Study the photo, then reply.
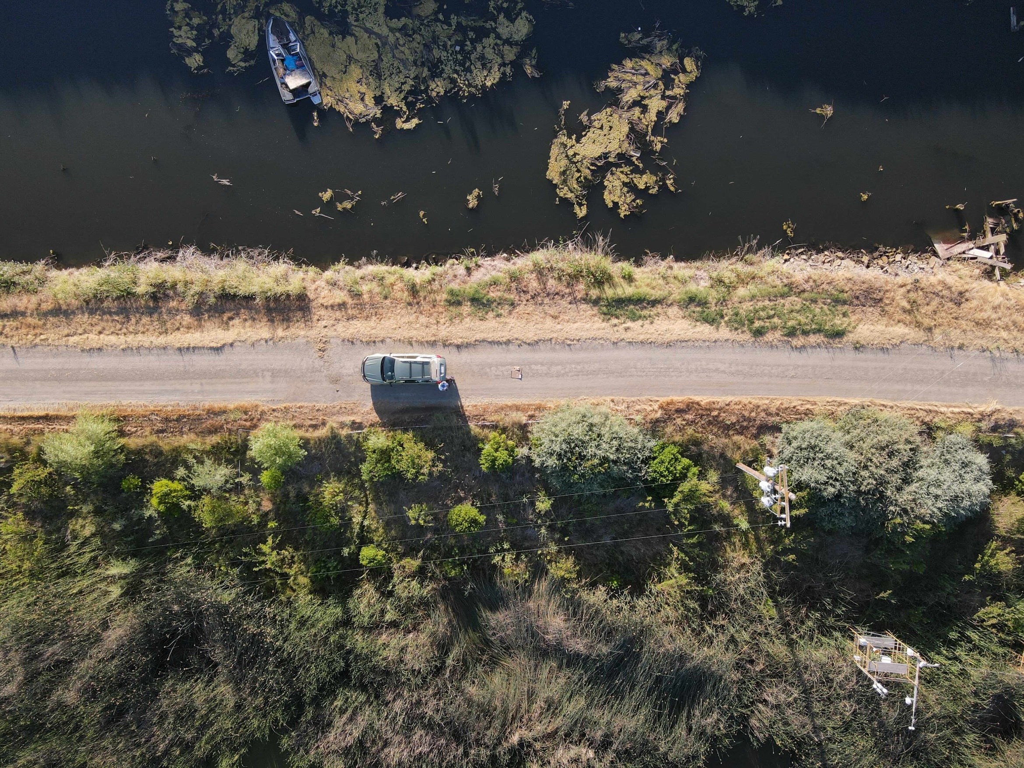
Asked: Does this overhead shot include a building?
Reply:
No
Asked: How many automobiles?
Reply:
one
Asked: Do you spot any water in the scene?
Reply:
Yes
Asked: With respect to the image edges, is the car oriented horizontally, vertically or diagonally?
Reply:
horizontally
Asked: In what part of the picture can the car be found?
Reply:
center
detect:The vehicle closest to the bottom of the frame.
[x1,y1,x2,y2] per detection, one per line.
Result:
[360,350,447,388]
